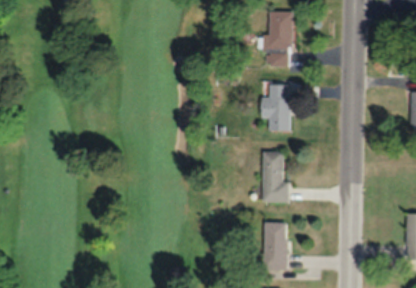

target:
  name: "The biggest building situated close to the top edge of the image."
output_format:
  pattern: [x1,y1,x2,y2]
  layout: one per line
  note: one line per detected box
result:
[258,12,294,68]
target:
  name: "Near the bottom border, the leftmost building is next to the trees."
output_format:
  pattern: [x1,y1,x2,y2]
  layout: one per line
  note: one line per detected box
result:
[264,222,293,274]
